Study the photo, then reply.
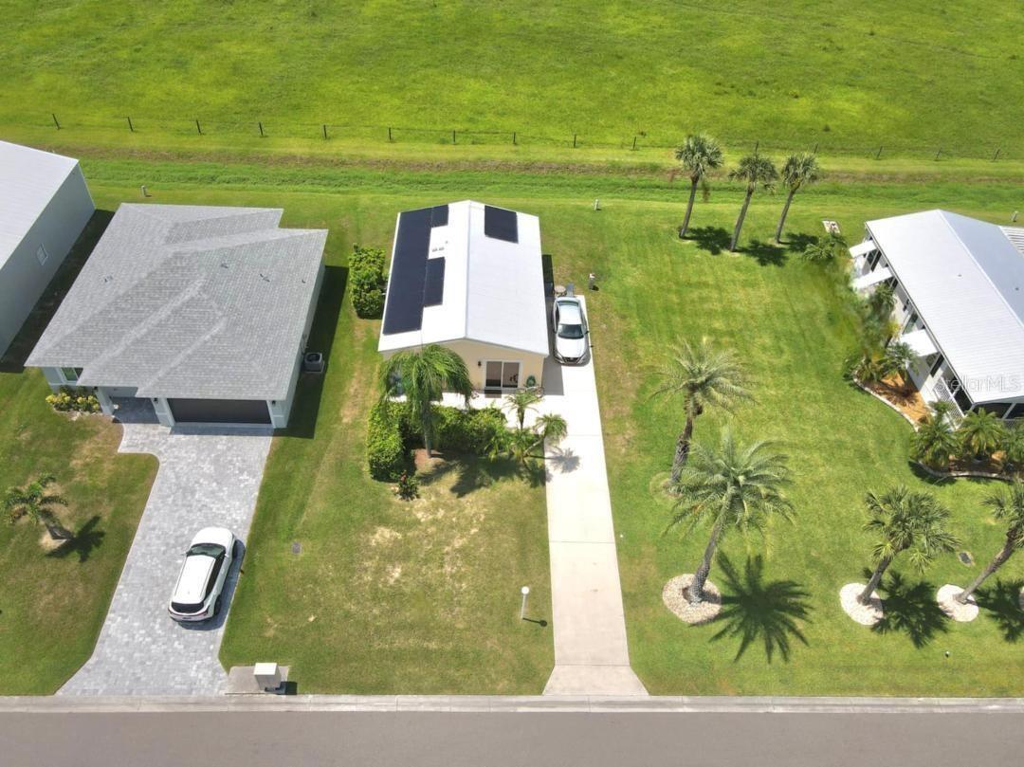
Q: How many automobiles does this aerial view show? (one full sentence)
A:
The count of automobiles comes to 2.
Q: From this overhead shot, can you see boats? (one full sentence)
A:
No, the picture doesn't show any boat.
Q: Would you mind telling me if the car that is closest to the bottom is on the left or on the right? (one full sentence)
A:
The car that is closest to the bottom appears in the left half of the scene.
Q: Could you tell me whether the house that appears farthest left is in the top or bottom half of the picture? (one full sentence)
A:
The house that appears farthest left is in the top half of the image.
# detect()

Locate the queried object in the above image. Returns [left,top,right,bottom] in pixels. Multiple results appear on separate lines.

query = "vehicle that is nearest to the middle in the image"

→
[550,298,590,359]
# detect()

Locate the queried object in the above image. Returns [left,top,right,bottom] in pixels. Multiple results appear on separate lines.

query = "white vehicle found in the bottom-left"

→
[167,531,238,628]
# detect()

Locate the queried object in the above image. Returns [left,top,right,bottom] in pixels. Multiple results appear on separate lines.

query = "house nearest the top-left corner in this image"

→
[0,142,94,358]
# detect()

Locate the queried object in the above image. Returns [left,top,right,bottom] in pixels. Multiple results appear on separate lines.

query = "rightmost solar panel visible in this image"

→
[484,204,519,243]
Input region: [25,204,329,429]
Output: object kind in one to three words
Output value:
house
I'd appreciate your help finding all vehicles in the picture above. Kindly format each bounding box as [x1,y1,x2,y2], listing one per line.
[167,531,238,628]
[550,298,590,359]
